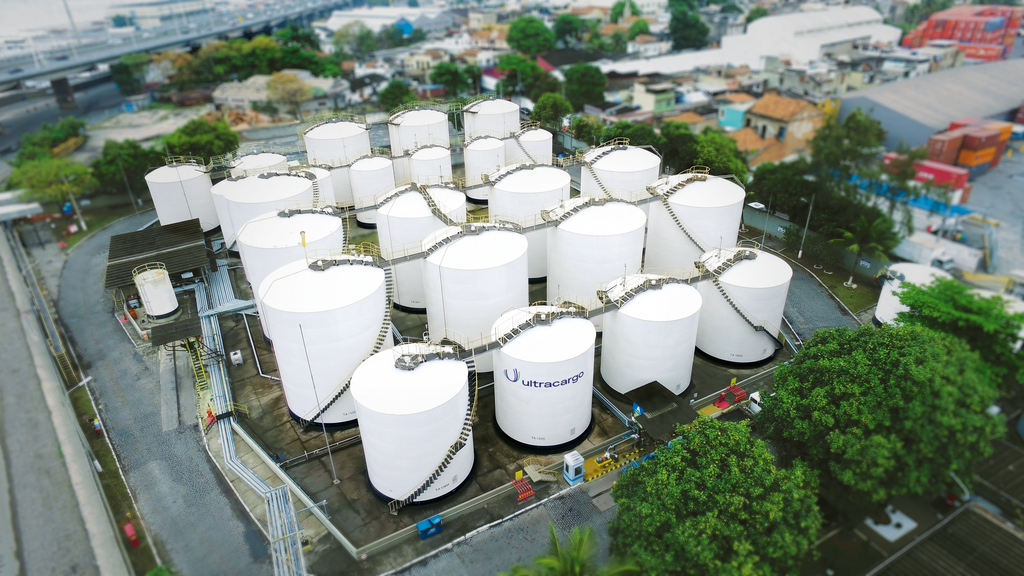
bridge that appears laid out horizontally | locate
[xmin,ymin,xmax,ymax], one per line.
[0,0,342,118]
